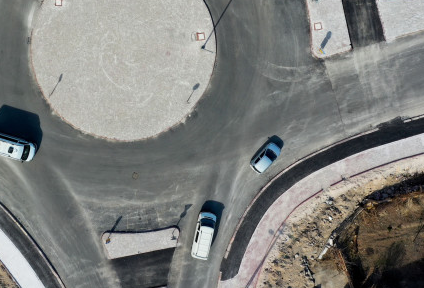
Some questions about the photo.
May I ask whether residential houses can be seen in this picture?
No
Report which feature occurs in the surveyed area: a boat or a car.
car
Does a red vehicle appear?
No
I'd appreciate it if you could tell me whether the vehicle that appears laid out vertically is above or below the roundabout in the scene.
below it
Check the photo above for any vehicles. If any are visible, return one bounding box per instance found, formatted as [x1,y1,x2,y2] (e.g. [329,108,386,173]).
[0,131,37,162]
[249,140,281,174]
[191,212,216,258]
